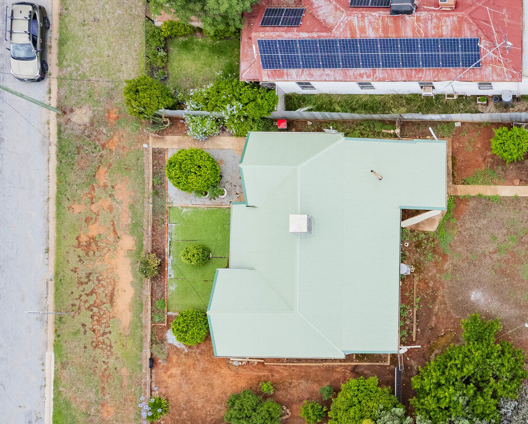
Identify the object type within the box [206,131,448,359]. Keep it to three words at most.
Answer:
house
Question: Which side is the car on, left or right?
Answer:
left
